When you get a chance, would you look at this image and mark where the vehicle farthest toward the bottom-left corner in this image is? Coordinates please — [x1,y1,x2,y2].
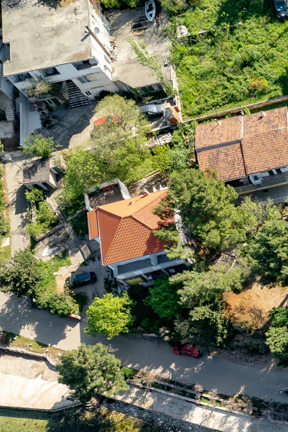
[65,271,98,290]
